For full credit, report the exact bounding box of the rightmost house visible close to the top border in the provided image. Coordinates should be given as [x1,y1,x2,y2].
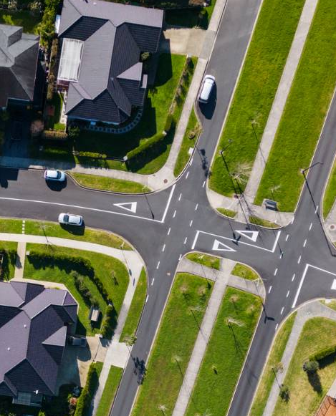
[57,0,165,126]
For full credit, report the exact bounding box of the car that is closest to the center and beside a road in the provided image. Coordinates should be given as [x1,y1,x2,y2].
[57,214,85,226]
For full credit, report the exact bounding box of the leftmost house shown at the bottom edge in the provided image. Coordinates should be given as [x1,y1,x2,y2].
[0,280,79,396]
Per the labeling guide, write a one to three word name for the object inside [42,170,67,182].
vehicle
